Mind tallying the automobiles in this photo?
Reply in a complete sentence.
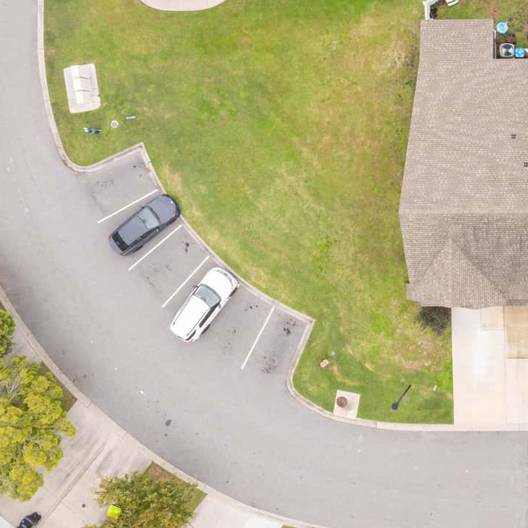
Looking from above, you can make out 2 automobiles.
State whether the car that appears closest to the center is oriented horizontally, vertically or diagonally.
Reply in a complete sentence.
In this picture, the car that appears closest to the center is oriented diagonally.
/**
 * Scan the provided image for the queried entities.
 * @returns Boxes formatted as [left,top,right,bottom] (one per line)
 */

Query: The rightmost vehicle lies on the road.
[170,266,243,344]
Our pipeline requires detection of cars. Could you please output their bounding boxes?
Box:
[107,198,186,258]
[170,266,243,344]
